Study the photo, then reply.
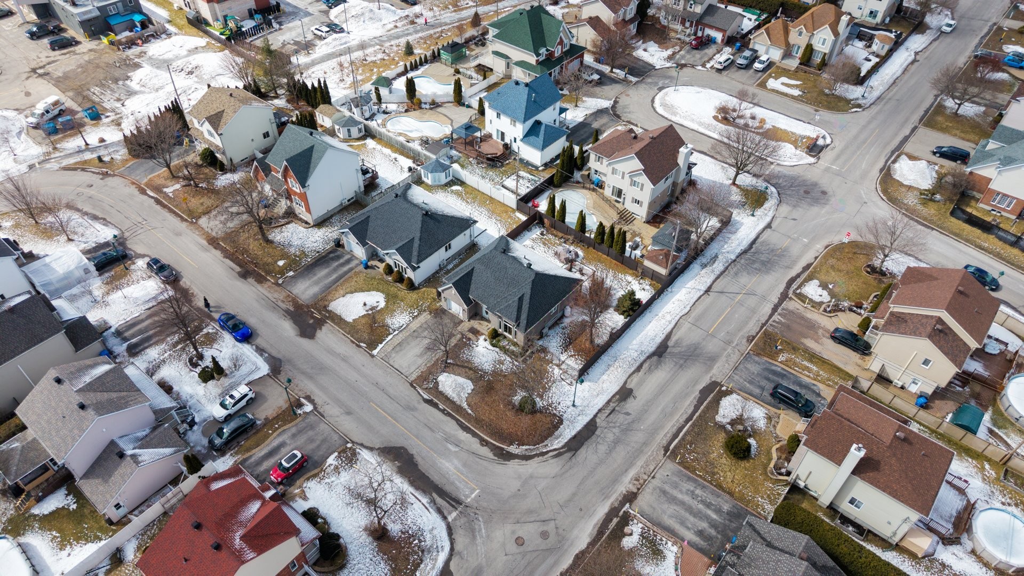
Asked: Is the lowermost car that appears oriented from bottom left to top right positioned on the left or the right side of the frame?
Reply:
left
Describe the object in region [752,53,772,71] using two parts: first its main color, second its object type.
white car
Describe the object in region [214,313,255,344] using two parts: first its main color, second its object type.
blue car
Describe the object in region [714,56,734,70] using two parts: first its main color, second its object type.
white car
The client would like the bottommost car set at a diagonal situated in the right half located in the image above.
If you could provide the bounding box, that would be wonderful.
[768,381,818,419]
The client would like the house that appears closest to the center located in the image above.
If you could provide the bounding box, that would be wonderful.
[438,236,584,352]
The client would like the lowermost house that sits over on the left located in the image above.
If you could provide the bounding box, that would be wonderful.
[112,463,330,576]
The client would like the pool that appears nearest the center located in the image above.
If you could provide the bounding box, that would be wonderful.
[551,187,598,231]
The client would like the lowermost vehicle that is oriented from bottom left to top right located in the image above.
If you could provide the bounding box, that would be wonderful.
[267,448,312,485]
